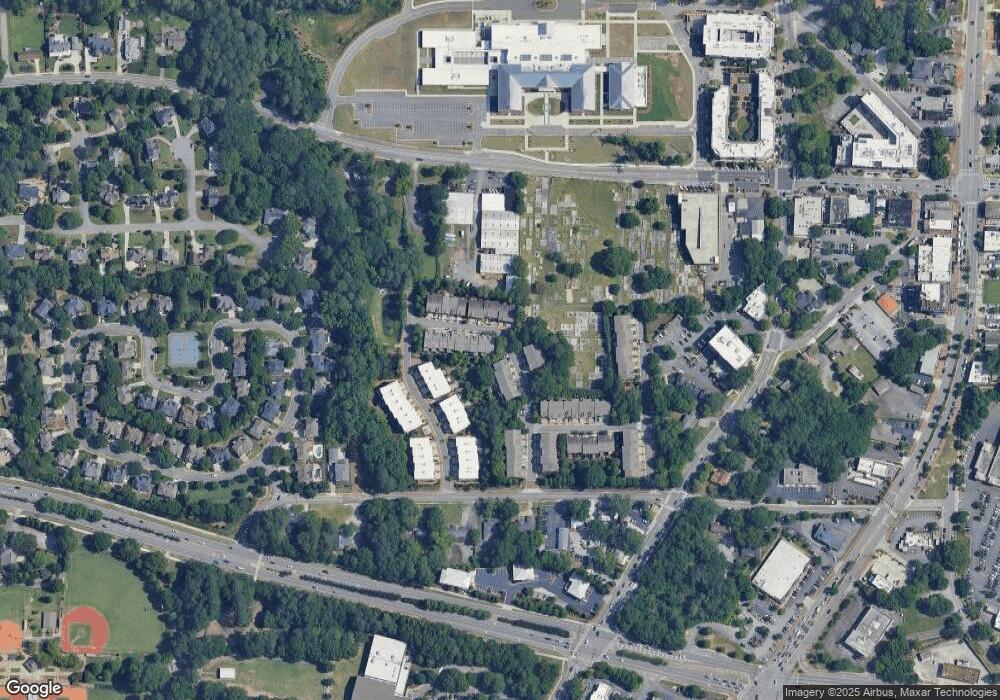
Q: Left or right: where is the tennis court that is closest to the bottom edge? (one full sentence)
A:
The tennis court that is closest to the bottom edge sits on the left side.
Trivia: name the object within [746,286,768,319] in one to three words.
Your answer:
building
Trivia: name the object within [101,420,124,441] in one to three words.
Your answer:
house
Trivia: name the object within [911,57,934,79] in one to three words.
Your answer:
building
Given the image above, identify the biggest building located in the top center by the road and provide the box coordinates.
[422,18,603,111]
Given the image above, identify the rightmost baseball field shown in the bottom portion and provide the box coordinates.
[60,546,163,655]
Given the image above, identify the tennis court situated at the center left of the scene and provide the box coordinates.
[169,332,200,366]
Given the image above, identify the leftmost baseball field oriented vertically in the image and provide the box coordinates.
[0,586,24,658]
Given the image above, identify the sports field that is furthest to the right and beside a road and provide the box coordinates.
[637,53,692,121]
